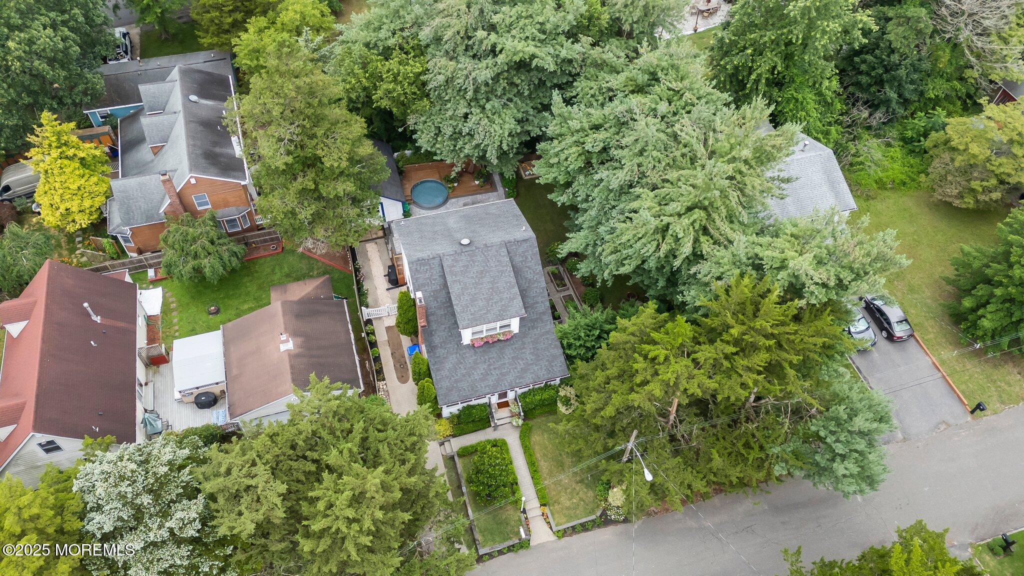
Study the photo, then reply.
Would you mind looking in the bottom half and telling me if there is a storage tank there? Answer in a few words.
No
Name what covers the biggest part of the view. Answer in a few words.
trees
